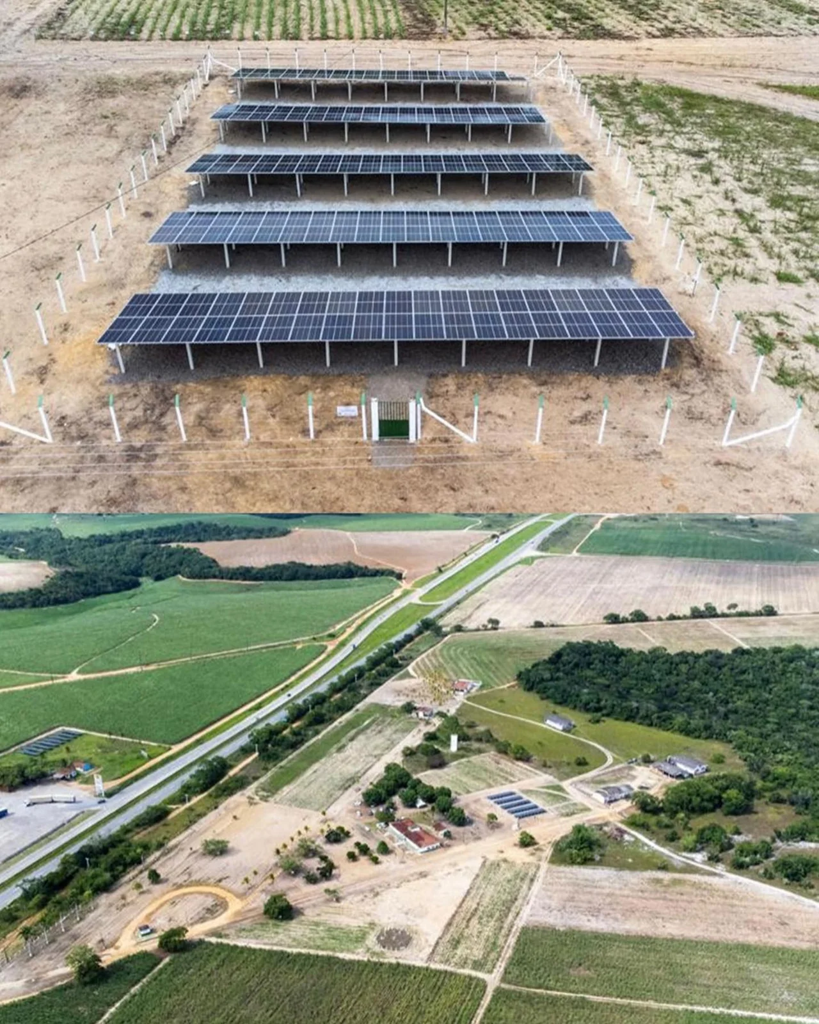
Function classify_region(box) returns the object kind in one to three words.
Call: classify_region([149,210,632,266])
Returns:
solar array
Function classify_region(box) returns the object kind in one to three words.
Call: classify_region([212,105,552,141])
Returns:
solar array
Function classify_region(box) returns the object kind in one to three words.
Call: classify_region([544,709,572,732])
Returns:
barn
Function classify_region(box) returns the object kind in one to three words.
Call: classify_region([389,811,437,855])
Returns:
house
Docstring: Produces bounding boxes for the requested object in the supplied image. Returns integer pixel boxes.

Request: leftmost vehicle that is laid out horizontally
[21,794,75,810]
